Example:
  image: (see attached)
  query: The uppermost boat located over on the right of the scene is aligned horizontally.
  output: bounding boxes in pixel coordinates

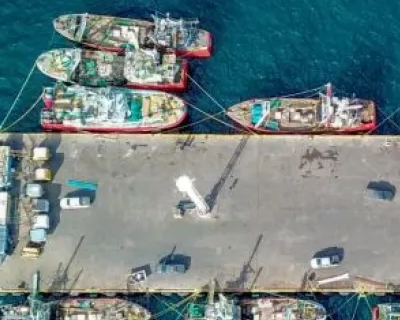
[227,83,375,134]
